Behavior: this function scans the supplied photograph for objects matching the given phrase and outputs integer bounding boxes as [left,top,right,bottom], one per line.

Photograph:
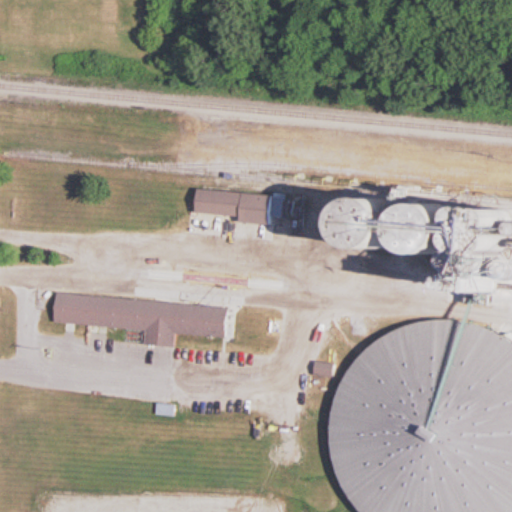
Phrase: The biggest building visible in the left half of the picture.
[50,292,228,348]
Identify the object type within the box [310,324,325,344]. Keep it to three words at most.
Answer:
vehicle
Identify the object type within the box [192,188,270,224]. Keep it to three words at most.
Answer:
building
